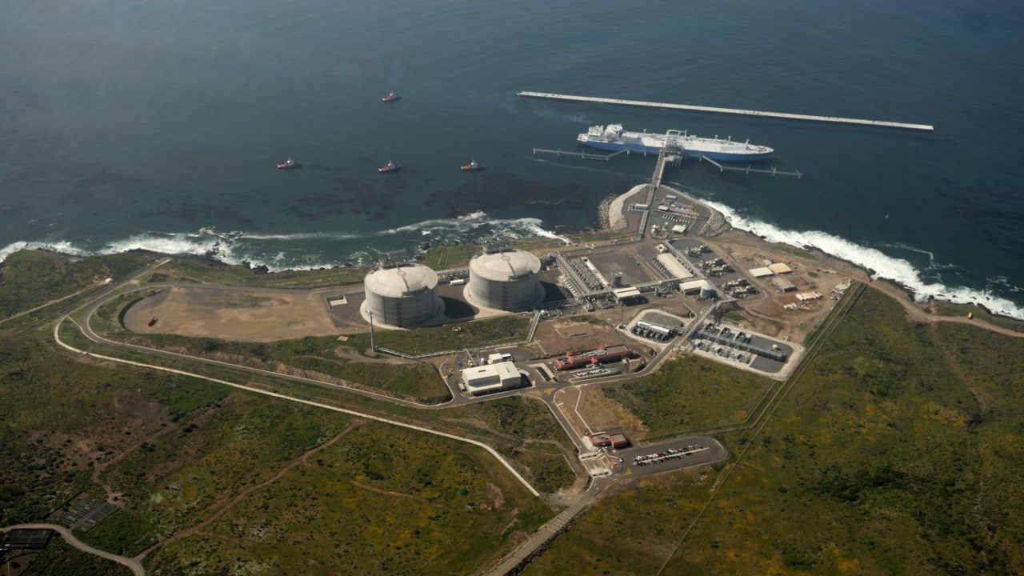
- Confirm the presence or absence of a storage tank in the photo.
Yes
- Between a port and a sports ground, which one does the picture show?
port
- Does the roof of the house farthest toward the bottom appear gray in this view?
No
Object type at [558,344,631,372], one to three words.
building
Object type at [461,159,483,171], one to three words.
boat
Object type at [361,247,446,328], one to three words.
storage tank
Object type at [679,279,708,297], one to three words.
building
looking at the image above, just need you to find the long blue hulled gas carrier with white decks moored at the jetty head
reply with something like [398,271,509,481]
[576,122,775,163]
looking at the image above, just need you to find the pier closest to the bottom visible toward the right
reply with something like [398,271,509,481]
[650,148,670,183]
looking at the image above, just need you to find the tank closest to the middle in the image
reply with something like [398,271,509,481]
[465,235,546,312]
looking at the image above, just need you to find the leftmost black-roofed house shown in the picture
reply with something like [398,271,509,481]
[1,527,53,547]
